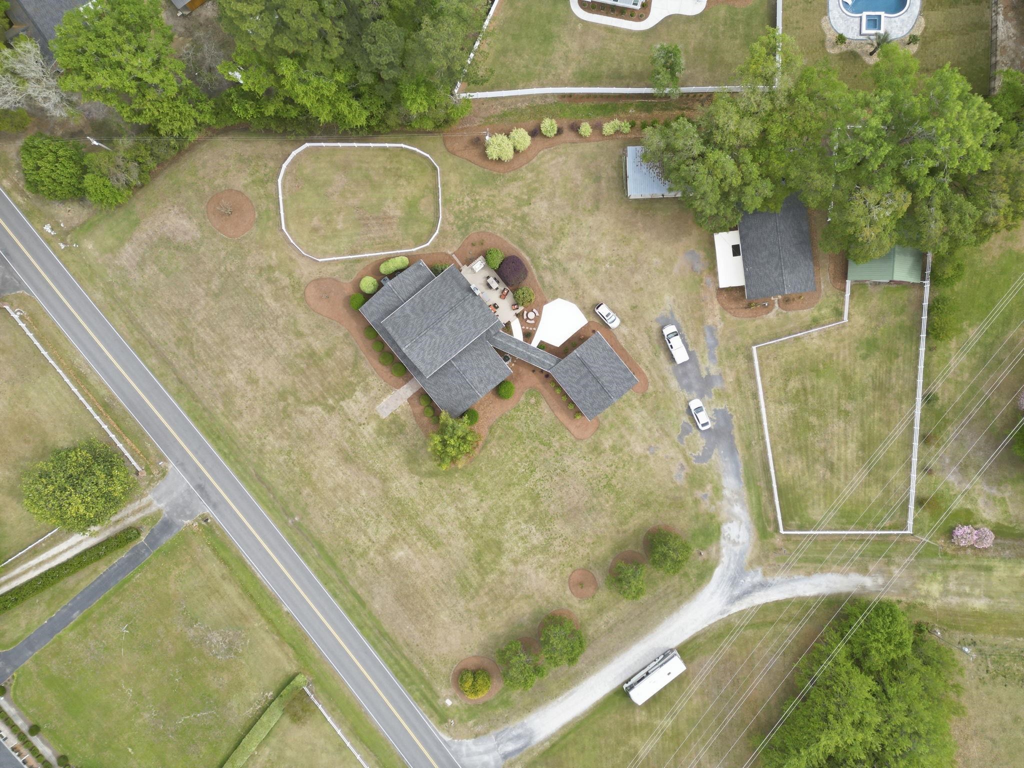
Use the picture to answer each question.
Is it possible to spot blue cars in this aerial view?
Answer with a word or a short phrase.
No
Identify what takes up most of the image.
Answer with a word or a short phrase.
grass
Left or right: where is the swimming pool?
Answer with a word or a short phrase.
right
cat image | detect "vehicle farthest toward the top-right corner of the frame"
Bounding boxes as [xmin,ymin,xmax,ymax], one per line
[662,324,692,366]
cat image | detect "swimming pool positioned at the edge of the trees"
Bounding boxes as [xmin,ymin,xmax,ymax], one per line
[840,0,911,34]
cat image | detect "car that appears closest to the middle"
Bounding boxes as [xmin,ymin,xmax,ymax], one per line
[594,299,619,330]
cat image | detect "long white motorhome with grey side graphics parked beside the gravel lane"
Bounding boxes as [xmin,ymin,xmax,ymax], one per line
[625,647,686,704]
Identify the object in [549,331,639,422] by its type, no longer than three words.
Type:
building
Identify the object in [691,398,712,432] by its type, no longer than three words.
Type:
car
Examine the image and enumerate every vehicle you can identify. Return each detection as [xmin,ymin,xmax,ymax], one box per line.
[662,324,692,366]
[625,647,686,704]
[691,398,712,432]
[594,299,619,330]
